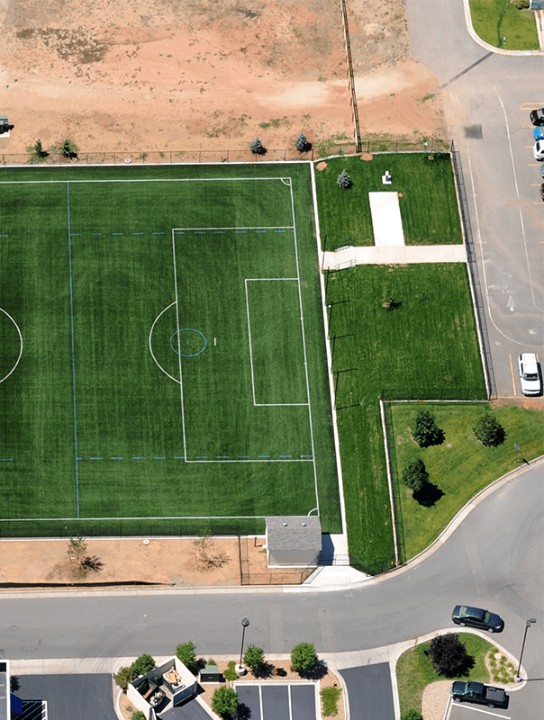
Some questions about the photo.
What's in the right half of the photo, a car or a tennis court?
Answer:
car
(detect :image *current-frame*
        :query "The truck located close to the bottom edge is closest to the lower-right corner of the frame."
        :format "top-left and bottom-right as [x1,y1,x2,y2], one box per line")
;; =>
[449,681,512,712]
